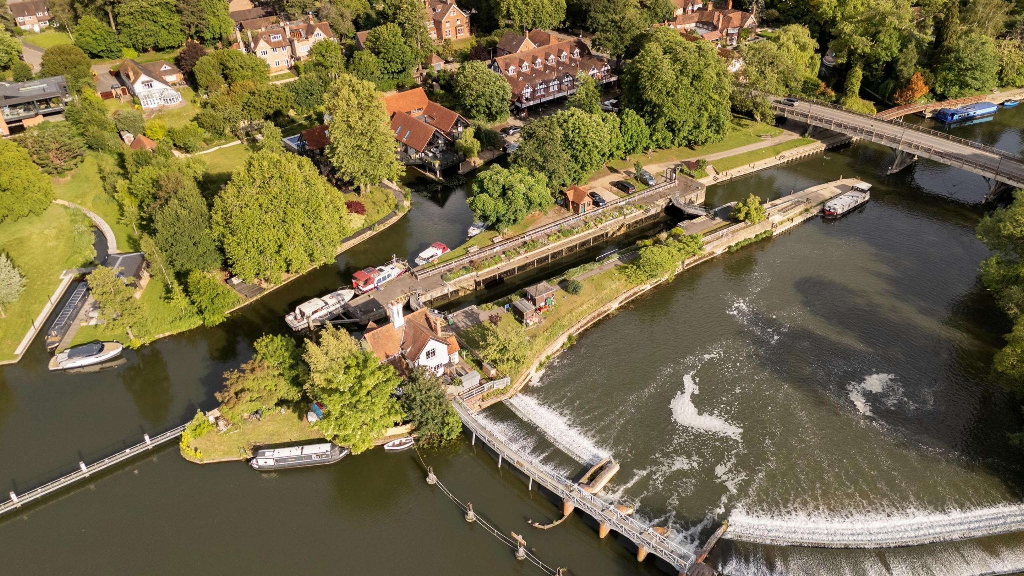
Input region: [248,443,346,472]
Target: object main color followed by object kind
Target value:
white boat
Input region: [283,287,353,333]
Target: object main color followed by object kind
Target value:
white boat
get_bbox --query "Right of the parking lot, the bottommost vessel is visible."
[822,180,879,217]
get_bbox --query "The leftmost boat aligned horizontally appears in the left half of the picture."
[45,341,120,372]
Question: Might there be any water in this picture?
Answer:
Yes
